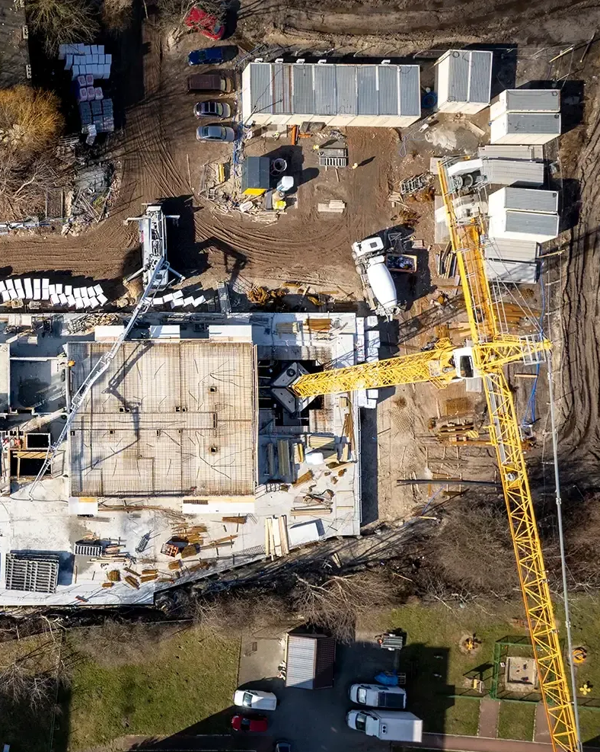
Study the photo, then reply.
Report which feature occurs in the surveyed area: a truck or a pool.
truck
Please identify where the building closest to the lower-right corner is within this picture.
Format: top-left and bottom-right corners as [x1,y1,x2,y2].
[281,632,336,693]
